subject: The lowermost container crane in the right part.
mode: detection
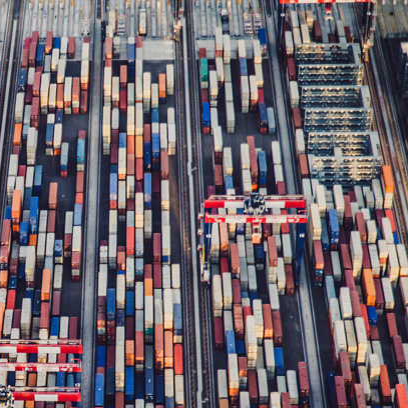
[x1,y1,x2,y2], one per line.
[196,193,305,283]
